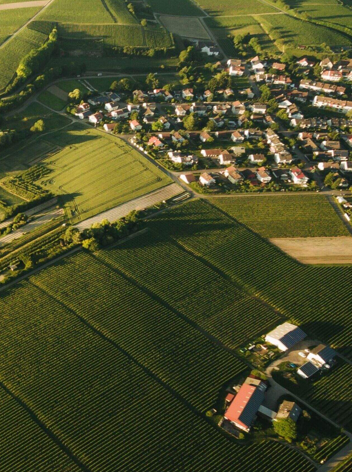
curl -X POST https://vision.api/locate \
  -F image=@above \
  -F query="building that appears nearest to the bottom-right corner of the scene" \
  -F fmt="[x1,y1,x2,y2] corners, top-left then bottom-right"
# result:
[274,401,303,424]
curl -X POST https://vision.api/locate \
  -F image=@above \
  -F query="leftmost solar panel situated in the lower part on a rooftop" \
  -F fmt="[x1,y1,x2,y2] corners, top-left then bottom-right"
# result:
[240,388,263,427]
